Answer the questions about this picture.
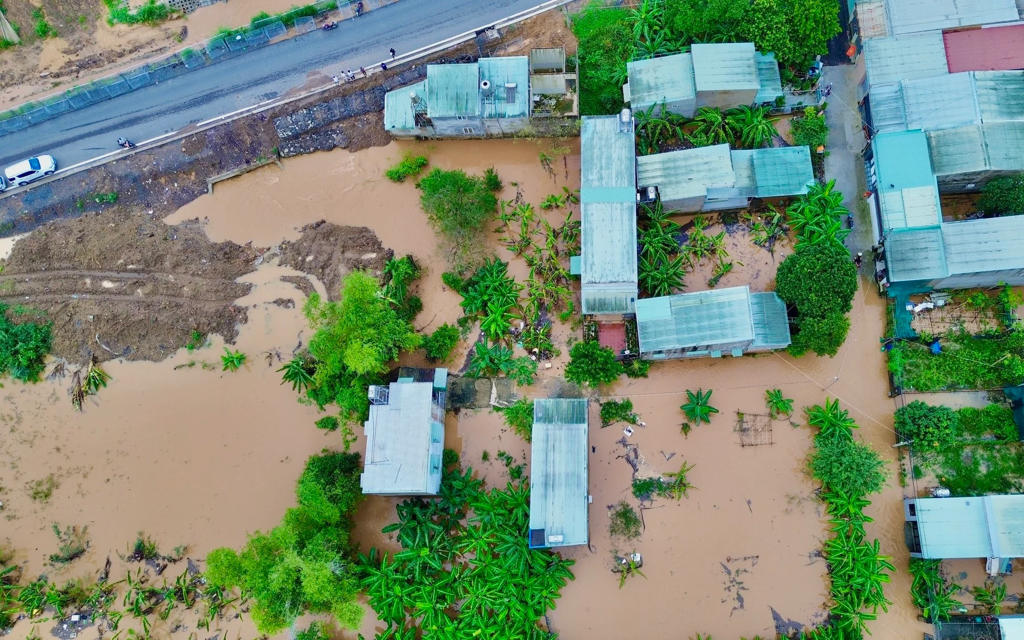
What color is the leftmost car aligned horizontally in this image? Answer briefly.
white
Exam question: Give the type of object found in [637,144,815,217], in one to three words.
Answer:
house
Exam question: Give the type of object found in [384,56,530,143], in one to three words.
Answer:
house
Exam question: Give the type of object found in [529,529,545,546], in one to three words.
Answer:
solar panel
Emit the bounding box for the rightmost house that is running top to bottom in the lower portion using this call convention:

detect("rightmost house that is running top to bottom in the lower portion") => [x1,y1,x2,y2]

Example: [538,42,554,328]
[529,395,593,549]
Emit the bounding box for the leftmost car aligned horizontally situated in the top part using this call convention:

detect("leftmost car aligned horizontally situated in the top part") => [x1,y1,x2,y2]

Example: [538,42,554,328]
[3,160,55,190]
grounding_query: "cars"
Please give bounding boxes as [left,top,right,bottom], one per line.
[0,176,8,196]
[3,160,55,190]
